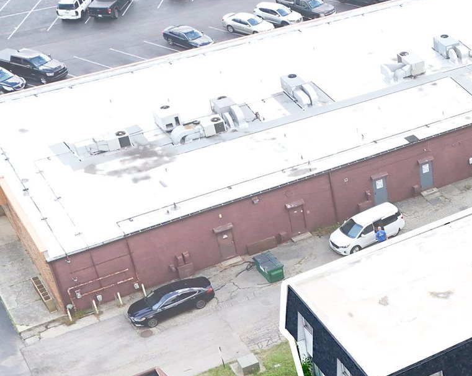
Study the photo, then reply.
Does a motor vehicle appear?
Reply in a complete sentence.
Yes, a motor vehicle appears in the view.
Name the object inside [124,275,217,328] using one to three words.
car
